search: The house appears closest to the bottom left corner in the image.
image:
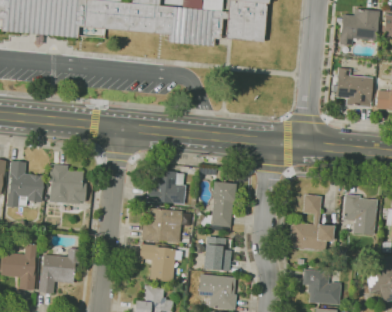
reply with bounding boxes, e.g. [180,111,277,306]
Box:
[1,246,37,292]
